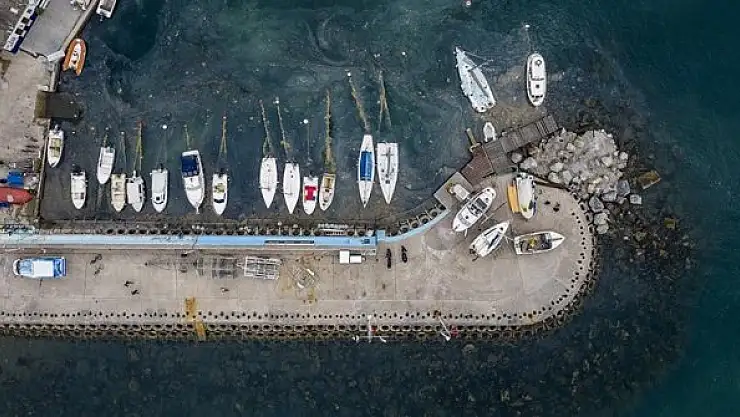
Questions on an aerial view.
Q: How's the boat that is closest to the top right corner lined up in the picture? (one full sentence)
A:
I'd say the boat that is closest to the top right corner is aligned up and down in the picture.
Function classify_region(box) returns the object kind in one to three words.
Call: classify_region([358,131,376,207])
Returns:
boat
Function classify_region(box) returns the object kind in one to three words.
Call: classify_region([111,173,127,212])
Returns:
boat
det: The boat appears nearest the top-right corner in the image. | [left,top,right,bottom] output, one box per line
[526,53,547,106]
